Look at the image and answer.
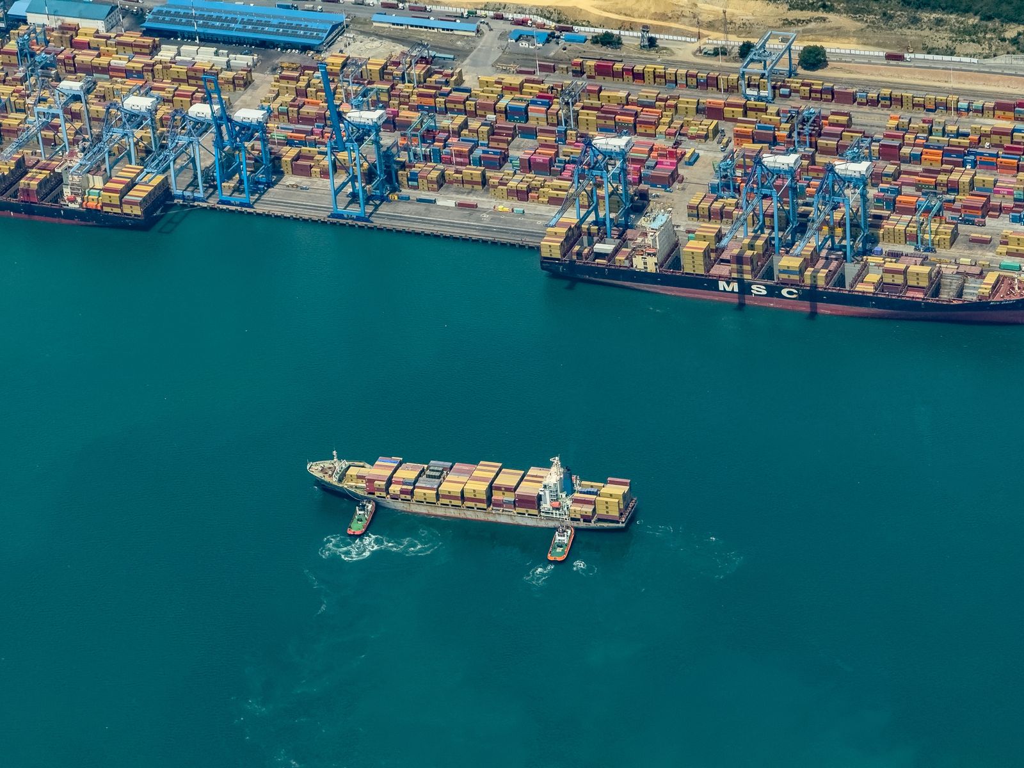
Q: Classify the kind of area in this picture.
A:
port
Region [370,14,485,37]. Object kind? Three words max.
shed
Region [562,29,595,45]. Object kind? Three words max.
shed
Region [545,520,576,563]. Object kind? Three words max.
boat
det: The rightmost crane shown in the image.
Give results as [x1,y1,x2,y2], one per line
[913,193,944,251]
